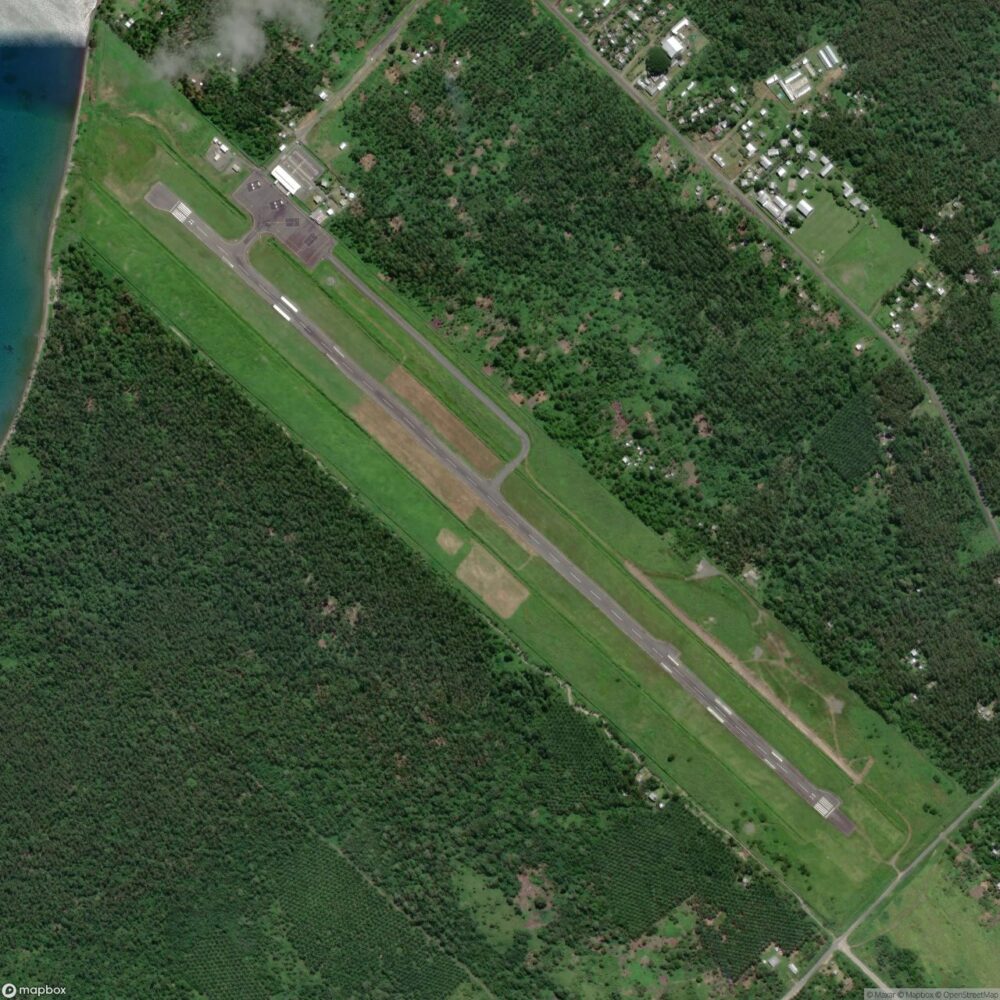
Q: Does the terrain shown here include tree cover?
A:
Yes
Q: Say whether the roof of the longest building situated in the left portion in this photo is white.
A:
Yes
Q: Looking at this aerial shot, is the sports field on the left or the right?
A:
right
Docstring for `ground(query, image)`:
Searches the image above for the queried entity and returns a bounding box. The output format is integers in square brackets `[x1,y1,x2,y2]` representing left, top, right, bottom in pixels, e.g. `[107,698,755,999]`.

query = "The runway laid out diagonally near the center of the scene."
[144,181,856,836]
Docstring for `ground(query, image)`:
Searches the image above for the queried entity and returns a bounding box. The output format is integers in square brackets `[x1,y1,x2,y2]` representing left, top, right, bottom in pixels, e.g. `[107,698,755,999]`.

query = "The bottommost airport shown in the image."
[144,143,856,836]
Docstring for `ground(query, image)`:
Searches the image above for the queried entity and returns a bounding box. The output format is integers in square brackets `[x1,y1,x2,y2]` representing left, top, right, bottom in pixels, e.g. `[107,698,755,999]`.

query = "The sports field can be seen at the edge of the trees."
[801,191,856,266]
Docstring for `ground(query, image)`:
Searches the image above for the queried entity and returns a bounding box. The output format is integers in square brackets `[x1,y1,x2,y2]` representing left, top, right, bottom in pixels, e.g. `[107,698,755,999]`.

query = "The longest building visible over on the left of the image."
[271,165,301,196]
